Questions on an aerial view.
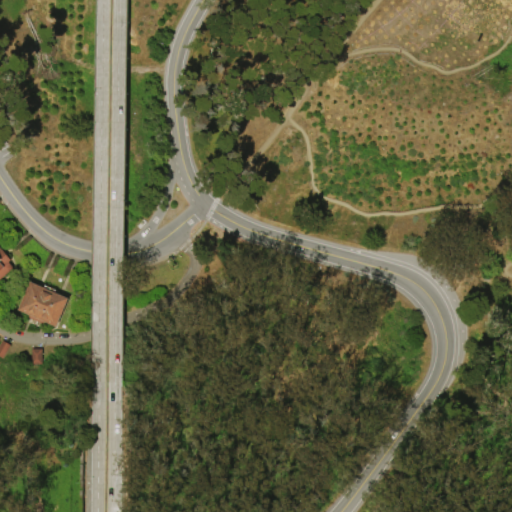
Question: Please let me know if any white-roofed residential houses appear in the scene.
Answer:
No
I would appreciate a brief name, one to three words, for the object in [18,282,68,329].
house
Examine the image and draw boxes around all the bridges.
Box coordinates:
[92,0,128,388]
